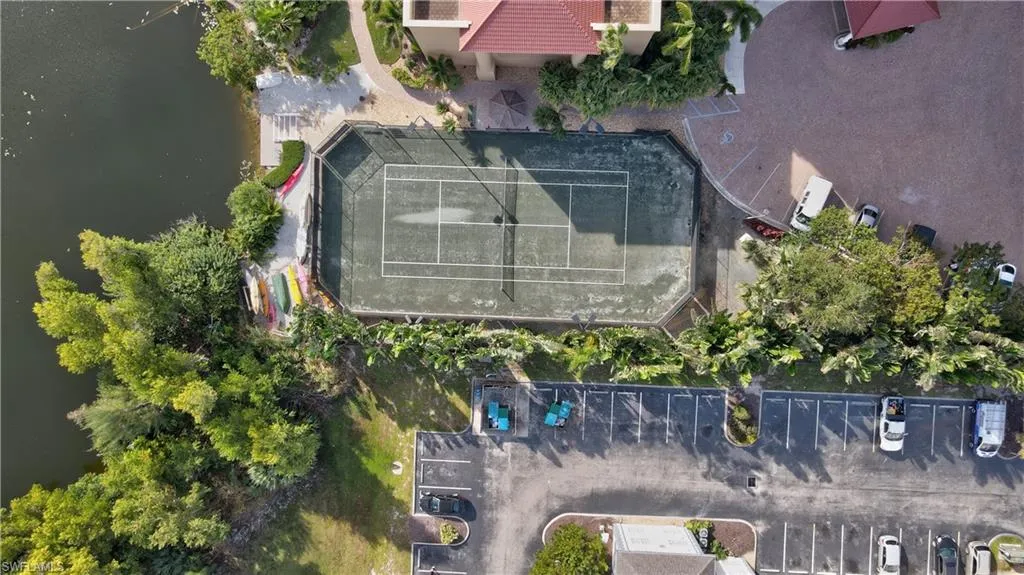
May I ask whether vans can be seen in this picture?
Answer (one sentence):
Yes, a van is visible in the scene.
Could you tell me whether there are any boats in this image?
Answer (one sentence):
Yes, this view includes a boat.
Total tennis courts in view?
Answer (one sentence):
I count just 1 tennis court.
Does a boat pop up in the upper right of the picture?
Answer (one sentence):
No, I see no boat in the upper right of the picture.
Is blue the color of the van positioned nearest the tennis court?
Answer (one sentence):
No, the color of the van positioned nearest the tennis court is white.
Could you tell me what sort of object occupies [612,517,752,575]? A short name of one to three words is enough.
house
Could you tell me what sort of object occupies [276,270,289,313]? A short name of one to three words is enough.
boat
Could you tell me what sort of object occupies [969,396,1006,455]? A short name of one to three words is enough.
van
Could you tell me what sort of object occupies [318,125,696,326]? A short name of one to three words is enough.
tennis court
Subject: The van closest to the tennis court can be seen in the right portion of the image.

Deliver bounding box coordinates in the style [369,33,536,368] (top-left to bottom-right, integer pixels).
[787,174,832,233]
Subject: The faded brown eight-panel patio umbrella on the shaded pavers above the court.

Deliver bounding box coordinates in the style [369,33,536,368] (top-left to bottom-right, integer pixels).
[488,84,528,125]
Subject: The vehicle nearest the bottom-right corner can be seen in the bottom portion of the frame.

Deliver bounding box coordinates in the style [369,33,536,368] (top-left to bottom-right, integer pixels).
[966,538,992,575]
